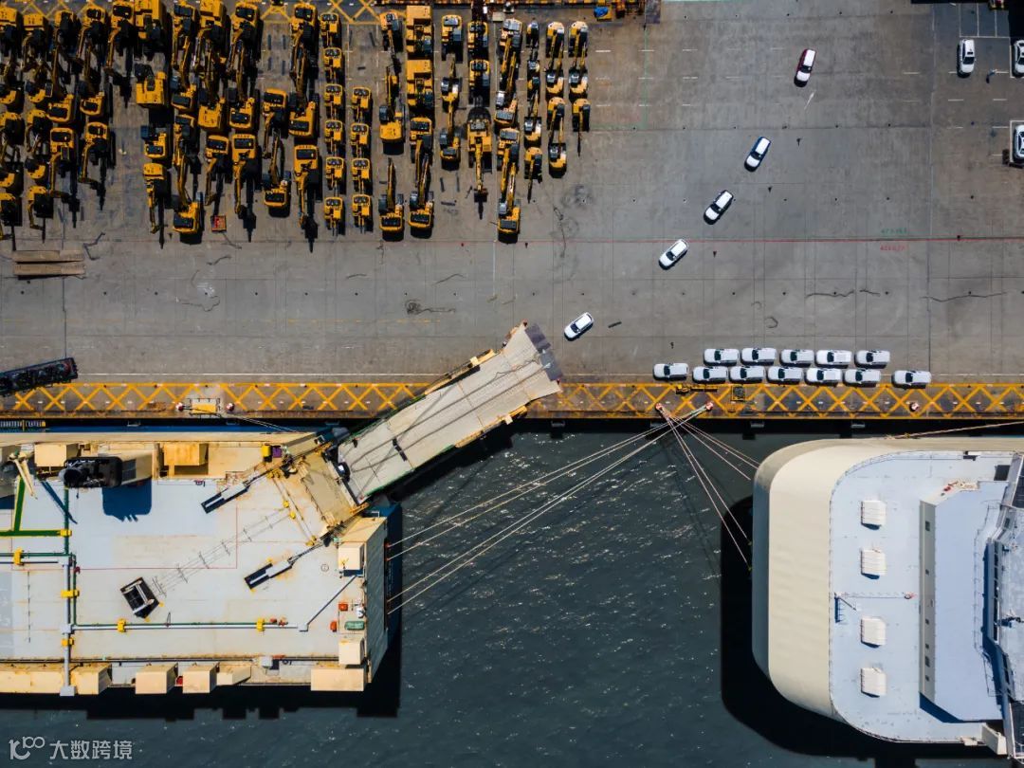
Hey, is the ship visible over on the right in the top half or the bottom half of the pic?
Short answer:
bottom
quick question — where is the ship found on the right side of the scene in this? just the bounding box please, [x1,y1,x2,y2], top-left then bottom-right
[752,433,1024,756]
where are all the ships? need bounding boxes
[0,321,574,695]
[752,433,1024,756]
